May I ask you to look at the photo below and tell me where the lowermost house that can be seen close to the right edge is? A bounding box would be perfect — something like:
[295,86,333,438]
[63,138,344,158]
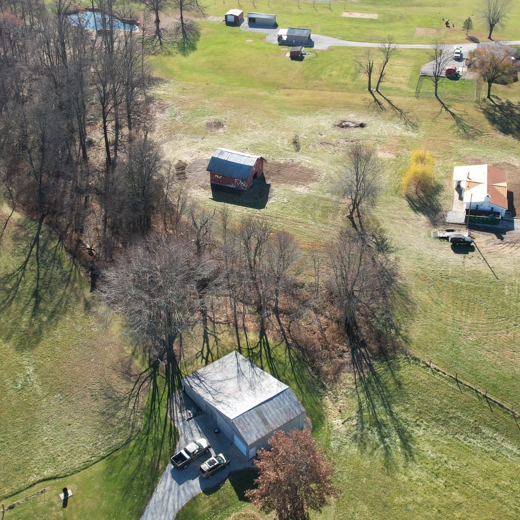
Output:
[453,164,508,222]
